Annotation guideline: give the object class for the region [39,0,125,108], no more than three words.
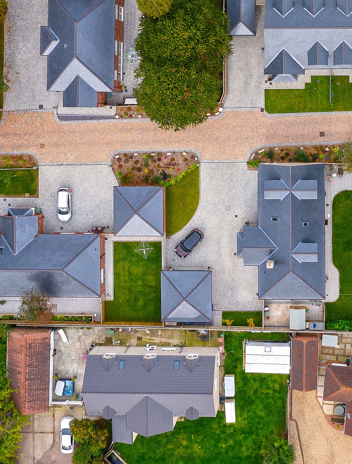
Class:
house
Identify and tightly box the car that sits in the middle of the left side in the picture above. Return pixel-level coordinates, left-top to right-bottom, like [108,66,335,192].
[55,188,73,221]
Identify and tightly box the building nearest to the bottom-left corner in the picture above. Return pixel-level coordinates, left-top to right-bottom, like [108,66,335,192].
[7,327,55,414]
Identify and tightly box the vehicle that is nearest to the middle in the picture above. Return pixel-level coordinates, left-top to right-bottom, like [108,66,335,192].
[177,227,203,260]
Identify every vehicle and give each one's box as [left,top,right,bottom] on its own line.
[177,227,203,260]
[55,188,73,221]
[58,415,76,454]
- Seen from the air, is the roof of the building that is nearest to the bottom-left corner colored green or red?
red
